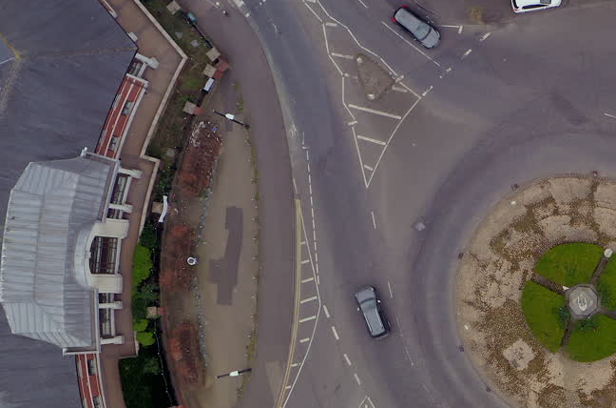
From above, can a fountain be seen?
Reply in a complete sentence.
No, there appears to be no fountain in this shot.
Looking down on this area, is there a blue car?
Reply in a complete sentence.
No, no blue car is visible in the scene.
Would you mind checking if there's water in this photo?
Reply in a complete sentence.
No, there's no water in this view.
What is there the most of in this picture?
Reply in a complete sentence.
For the most part, this view shows paved ground.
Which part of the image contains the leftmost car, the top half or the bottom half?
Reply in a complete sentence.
It is in the bottom half that the leftmost car appears.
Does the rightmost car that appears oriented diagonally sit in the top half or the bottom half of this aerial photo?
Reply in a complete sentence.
It is in the top half that the rightmost car that appears oriented diagonally appears.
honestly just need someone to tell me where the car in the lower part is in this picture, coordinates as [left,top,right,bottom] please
[356,285,388,339]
